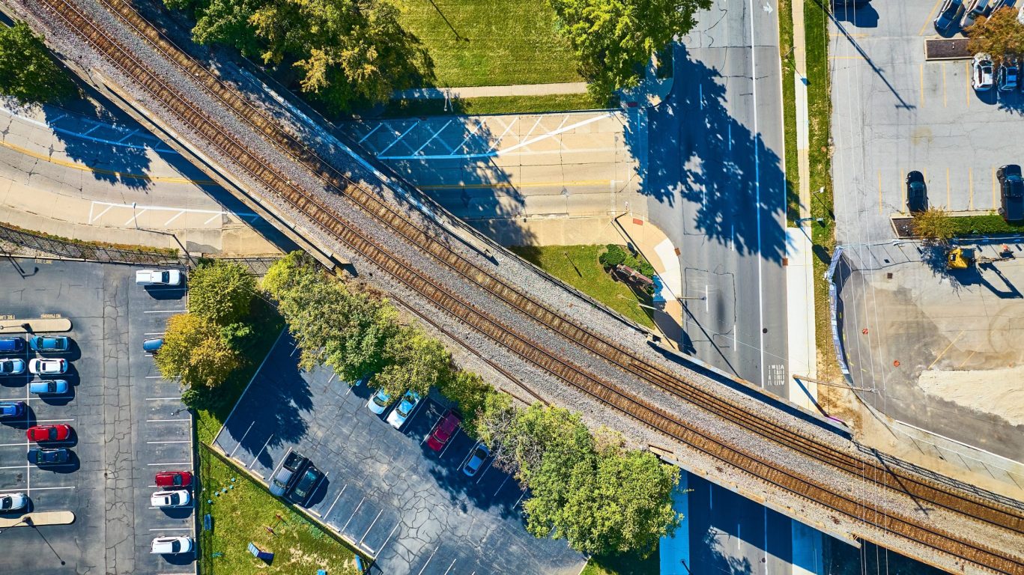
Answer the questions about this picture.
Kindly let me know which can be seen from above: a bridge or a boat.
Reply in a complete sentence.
It is a bridge that can be seen here.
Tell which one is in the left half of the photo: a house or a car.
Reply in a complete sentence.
The feature located in the left half of the photo is a car.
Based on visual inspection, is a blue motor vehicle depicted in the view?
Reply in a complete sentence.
Yes, there's a blue motor vehicle down there.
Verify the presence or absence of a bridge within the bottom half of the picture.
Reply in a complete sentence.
Yes, I can see a bridge within the bottom half of the picture.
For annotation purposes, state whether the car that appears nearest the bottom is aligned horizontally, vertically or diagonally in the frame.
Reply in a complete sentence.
The car that appears nearest the bottom has been laid out horizontally relative to the frame.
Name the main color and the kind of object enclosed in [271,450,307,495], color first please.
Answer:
blue truck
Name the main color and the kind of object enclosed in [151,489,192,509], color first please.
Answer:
white car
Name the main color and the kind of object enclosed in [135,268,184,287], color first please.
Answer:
white vehicle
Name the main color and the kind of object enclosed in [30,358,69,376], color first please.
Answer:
white car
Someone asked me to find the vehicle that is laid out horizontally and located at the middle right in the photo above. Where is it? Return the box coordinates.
[947,248,1012,269]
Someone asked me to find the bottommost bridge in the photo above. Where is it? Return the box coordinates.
[645,333,862,547]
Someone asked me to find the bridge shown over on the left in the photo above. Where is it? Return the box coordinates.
[94,47,517,271]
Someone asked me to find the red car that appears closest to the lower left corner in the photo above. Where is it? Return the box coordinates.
[29,424,71,442]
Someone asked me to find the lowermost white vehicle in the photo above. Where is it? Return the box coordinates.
[151,535,193,556]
